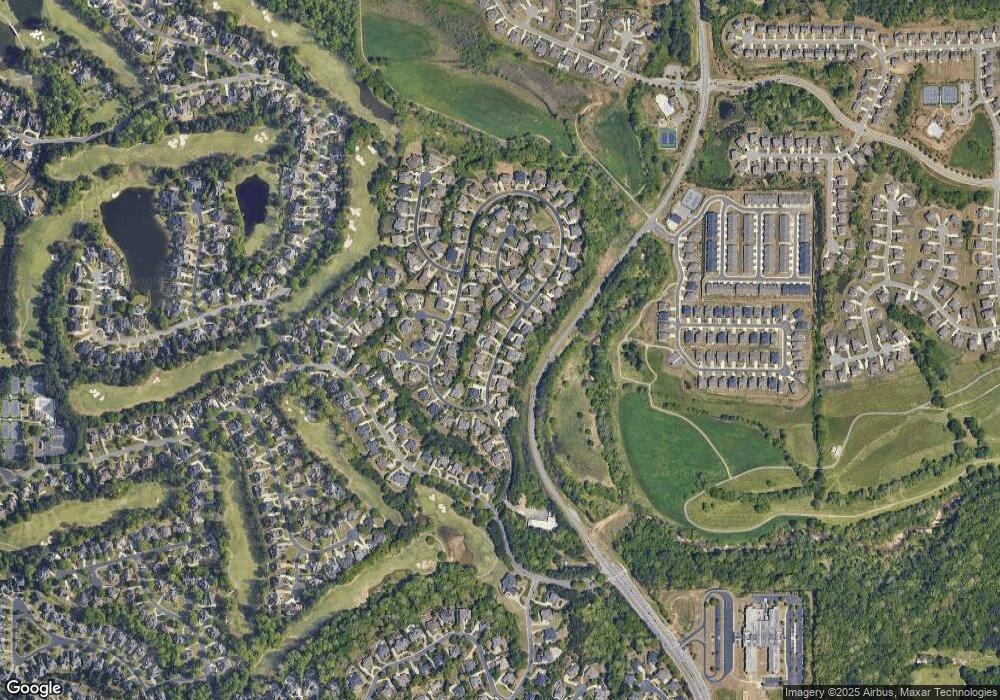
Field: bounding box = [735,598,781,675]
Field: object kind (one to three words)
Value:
building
